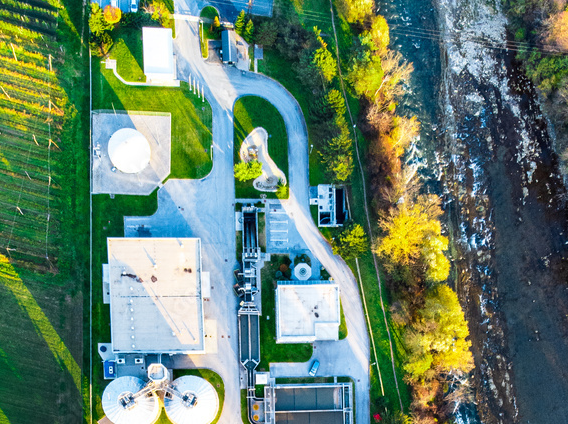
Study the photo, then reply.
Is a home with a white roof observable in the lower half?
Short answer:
Yes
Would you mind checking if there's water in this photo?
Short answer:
Yes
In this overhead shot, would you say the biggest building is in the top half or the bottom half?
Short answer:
bottom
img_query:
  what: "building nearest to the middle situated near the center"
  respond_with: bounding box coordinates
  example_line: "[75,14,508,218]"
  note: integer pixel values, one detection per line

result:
[318,185,347,228]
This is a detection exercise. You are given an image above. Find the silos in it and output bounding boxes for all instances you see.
[163,373,221,424]
[103,375,165,424]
